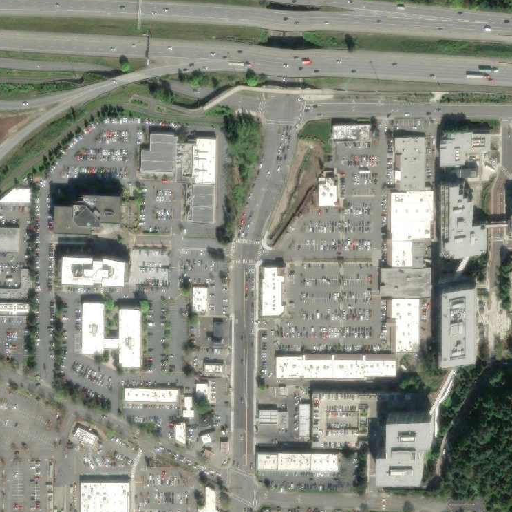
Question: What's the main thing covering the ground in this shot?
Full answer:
For the most part, this view shows paved ground.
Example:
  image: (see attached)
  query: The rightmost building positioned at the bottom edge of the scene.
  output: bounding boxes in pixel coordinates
[375,411,432,488]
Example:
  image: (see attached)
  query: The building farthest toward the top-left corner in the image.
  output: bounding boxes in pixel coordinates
[0,187,30,205]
